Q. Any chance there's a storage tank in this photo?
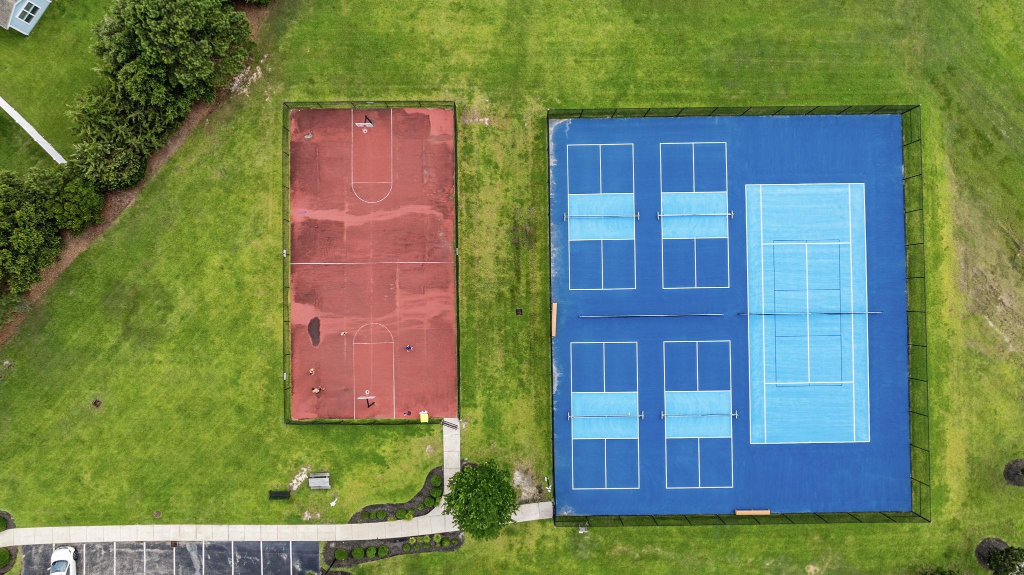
No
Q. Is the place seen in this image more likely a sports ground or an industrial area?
sports ground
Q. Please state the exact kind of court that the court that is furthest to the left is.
basketball court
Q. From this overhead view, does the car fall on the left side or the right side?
left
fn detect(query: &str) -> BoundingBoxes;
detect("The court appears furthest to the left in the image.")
[290,108,458,420]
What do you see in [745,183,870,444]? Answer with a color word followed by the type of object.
blue tennis court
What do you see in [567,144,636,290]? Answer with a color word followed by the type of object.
blue sports court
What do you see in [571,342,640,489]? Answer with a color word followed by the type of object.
blue sports court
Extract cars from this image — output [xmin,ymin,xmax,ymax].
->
[46,545,76,575]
